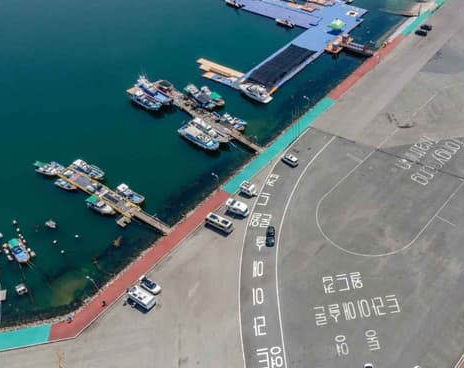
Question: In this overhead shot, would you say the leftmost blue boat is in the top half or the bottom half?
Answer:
bottom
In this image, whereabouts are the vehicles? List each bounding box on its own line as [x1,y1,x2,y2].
[415,29,428,37]
[203,211,238,235]
[265,227,275,247]
[280,152,301,168]
[224,197,254,221]
[140,278,163,296]
[420,23,433,32]
[239,180,257,198]
[129,286,158,311]
[365,362,375,368]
